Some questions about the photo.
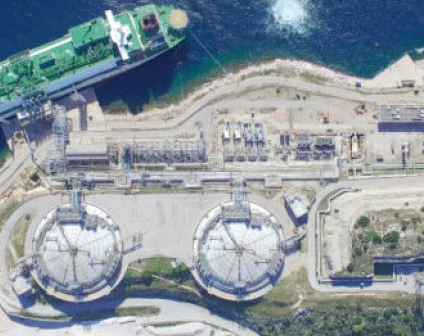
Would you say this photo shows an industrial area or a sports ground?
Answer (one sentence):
The area seen from above is an industrial area.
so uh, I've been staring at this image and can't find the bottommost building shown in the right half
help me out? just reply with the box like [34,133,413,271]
[287,193,310,223]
